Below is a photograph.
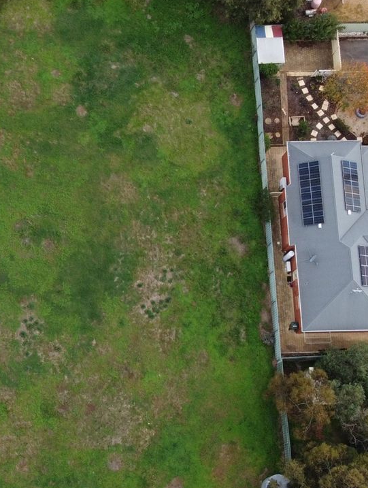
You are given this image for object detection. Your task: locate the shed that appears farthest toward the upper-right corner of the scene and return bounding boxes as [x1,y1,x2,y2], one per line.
[249,23,284,72]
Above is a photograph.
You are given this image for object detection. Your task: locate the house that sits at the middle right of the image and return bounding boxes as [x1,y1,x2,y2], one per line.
[277,139,368,336]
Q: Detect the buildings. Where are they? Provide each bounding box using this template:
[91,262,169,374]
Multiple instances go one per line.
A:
[249,23,284,72]
[277,139,368,336]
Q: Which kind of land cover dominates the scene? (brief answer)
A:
farmland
